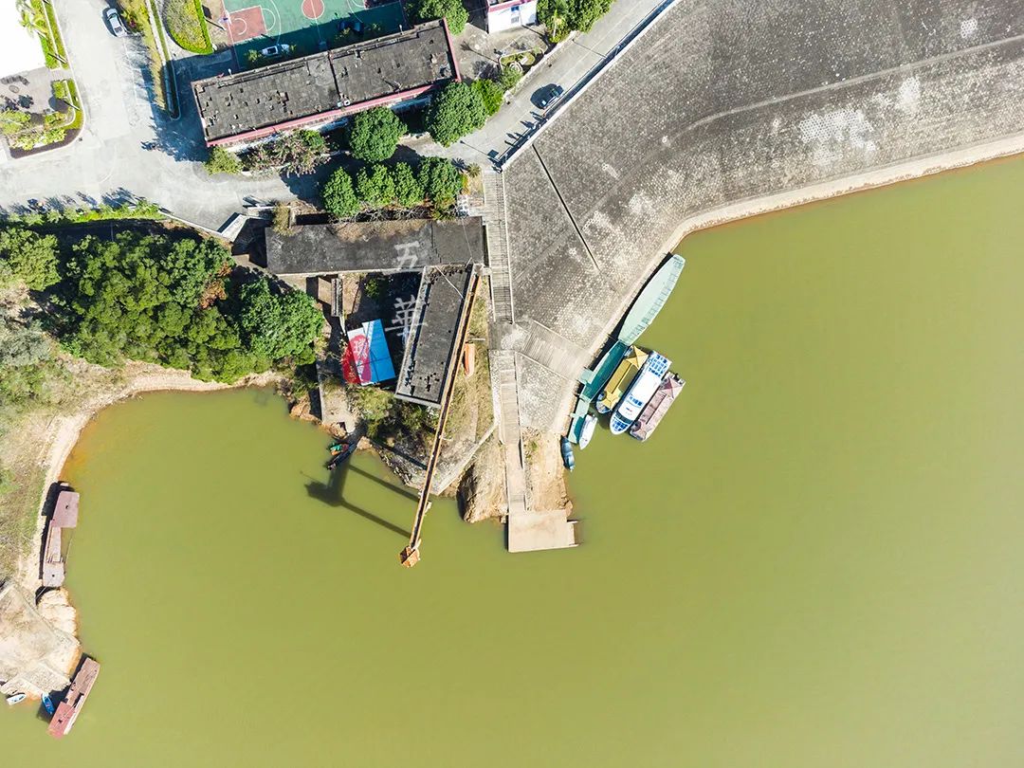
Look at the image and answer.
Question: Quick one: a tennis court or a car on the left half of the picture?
car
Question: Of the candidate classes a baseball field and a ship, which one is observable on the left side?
ship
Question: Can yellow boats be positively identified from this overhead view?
Yes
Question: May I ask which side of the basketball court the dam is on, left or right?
on the right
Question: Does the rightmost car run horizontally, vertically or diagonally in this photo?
diagonally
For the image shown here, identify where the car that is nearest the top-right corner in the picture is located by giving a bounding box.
[538,83,565,109]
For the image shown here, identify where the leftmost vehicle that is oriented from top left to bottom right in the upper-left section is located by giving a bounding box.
[107,8,129,37]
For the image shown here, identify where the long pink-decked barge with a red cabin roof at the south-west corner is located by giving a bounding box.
[49,655,103,736]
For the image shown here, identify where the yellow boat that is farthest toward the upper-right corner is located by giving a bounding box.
[601,344,651,414]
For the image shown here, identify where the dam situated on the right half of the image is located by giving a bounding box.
[495,0,1024,423]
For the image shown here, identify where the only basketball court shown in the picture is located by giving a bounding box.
[218,0,408,69]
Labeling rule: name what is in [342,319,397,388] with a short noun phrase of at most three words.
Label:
shed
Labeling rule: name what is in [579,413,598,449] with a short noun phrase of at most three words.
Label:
boat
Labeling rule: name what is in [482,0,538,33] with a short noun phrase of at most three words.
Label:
building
